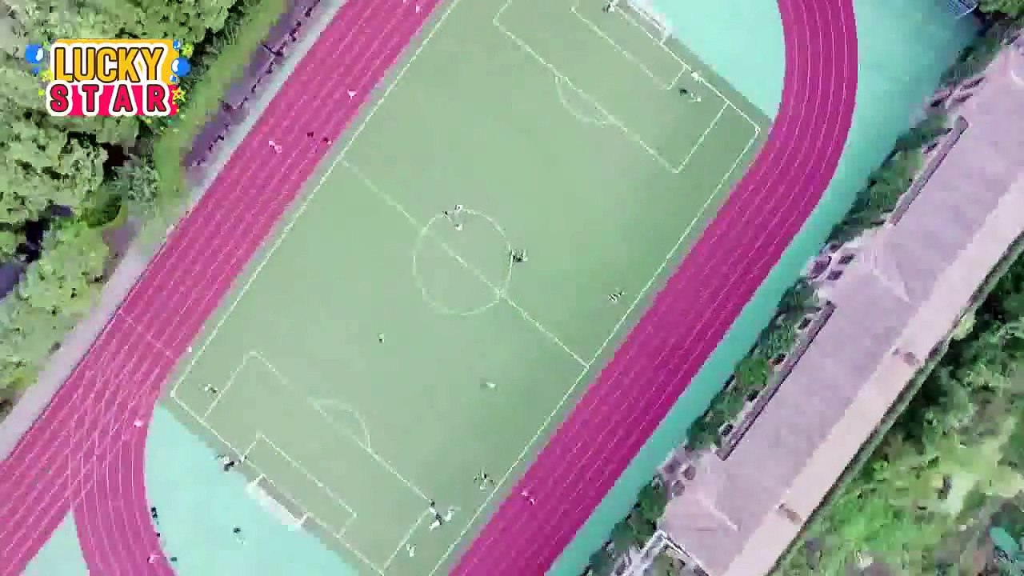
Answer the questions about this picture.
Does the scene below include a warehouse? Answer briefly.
No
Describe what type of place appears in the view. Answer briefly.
sports ground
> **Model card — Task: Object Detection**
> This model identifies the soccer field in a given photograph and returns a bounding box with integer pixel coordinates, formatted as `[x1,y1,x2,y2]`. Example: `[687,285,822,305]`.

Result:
[158,0,773,576]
